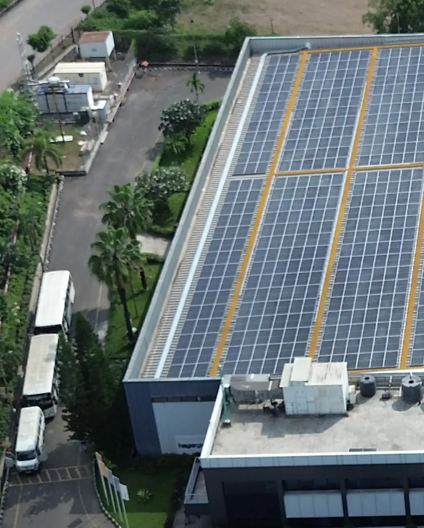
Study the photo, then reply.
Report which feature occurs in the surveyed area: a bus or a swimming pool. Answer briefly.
bus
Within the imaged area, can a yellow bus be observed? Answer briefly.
No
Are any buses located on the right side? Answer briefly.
No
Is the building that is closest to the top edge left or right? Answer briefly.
left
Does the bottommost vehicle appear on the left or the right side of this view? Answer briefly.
left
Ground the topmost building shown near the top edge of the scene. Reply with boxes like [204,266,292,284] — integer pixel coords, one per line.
[74,25,113,67]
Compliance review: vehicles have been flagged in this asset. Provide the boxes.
[14,406,51,481]
[23,334,62,420]
[37,270,74,338]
